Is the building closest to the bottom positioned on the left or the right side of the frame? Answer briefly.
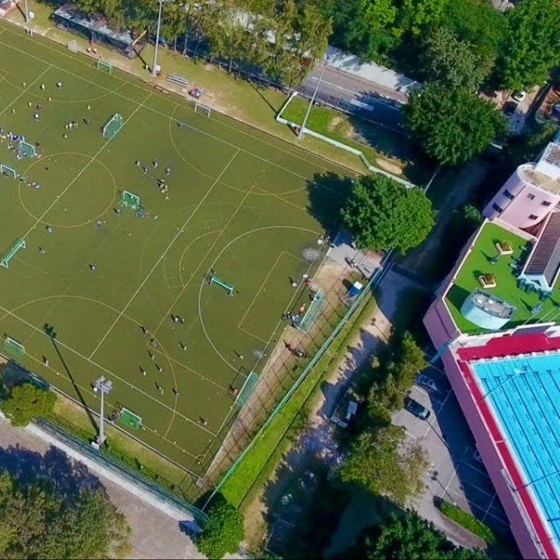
right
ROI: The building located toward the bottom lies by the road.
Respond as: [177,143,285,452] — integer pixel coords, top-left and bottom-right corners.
[414,208,560,560]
